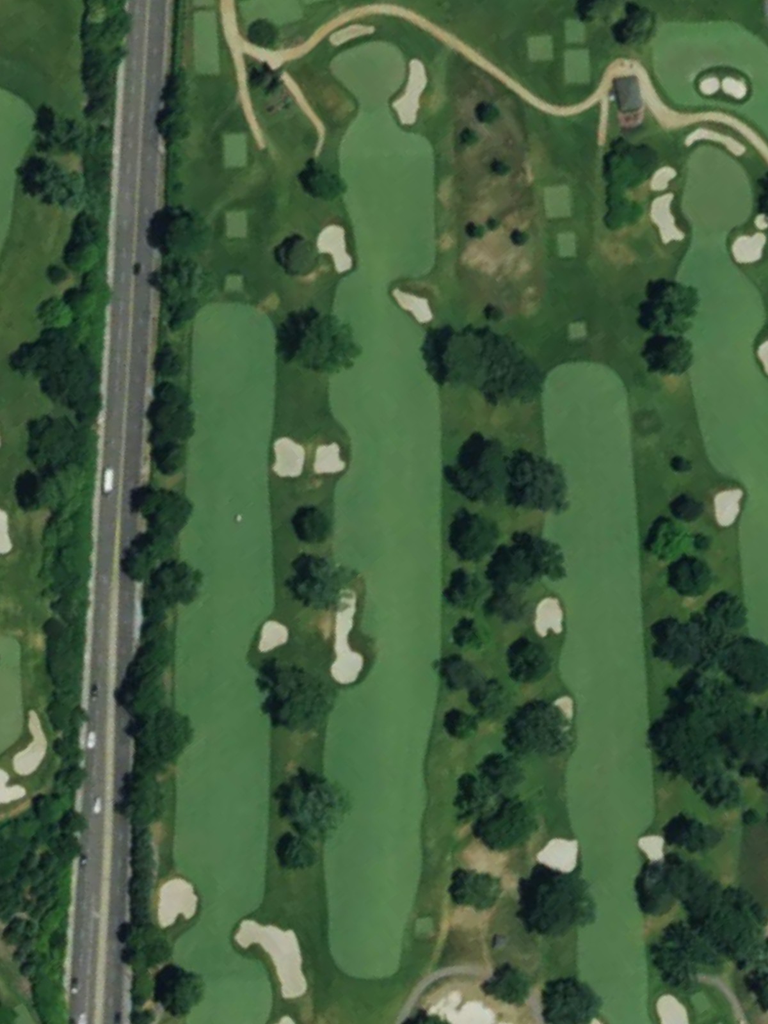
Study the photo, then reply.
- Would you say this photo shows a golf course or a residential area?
golf course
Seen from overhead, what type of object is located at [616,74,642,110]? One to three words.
shed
